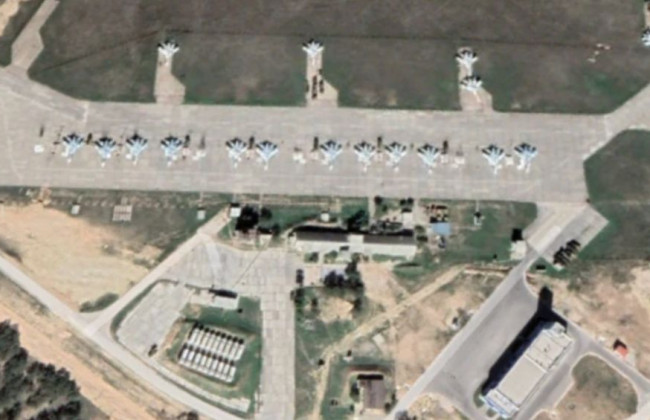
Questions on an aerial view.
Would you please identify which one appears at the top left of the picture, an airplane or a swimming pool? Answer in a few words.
airplane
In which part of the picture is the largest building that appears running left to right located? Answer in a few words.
center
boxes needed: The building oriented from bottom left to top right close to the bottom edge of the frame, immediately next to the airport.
[484,317,570,420]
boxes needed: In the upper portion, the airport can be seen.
[0,0,650,271]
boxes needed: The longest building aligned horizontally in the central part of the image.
[296,232,416,261]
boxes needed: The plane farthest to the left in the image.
[62,135,84,161]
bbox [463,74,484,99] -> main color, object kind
white airplane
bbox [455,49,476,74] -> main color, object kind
white airplane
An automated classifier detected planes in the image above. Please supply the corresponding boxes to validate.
[161,138,182,164]
[303,38,324,63]
[62,135,84,161]
[637,30,650,55]
[354,143,375,169]
[482,147,503,173]
[128,137,149,163]
[455,49,476,74]
[159,38,180,63]
[385,144,406,169]
[321,141,341,167]
[515,146,536,172]
[226,140,248,167]
[95,139,116,164]
[418,146,439,172]
[463,74,484,99]
[256,142,277,168]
